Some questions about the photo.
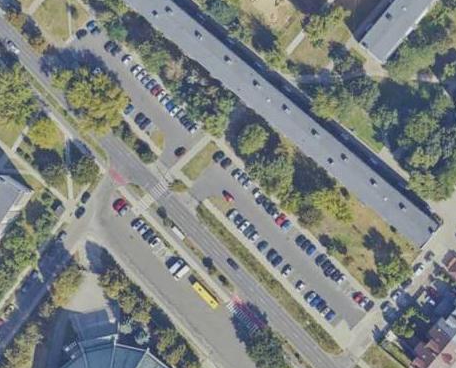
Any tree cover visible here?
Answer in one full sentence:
Yes, the picture does contain tree cover.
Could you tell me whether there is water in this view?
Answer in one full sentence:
No, there is no water in the image.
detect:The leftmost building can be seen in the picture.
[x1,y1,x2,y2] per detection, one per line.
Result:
[0,173,32,229]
